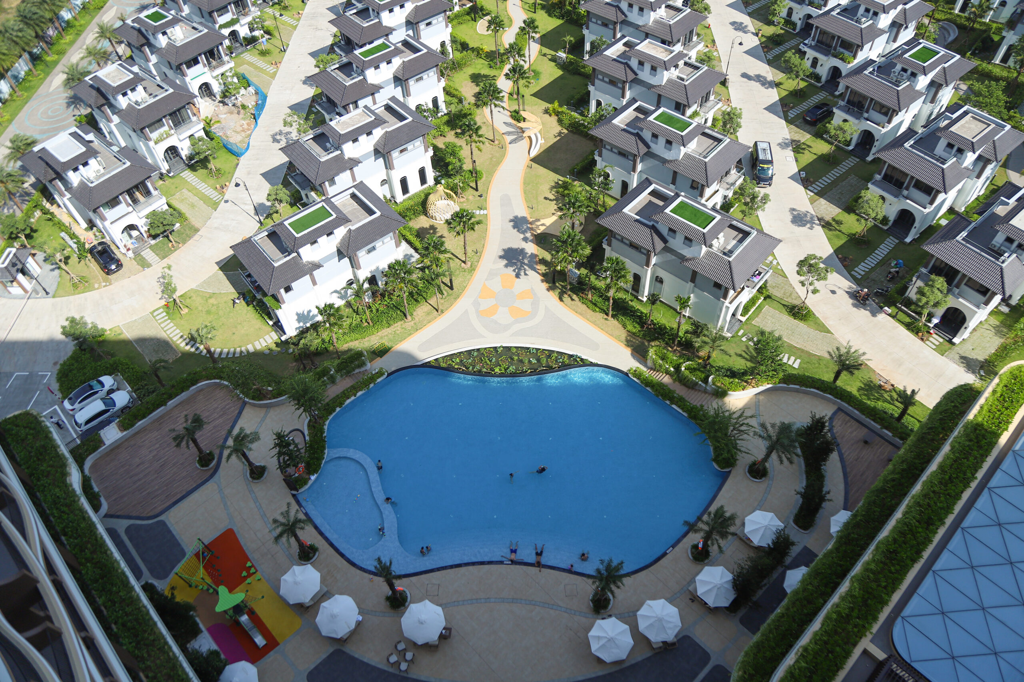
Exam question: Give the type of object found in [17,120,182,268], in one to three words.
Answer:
house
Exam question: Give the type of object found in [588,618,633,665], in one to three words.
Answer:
umbrella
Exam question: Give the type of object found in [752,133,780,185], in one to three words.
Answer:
van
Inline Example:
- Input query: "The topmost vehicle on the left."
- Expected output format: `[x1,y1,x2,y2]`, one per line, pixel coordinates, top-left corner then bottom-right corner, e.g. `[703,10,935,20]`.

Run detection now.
[84,241,120,275]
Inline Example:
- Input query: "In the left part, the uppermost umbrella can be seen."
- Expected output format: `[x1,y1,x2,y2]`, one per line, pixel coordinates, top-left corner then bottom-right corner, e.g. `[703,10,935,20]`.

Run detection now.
[277,565,320,606]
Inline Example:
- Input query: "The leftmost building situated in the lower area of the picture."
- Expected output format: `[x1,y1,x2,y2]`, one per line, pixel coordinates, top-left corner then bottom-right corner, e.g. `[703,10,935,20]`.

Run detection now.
[0,437,139,682]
